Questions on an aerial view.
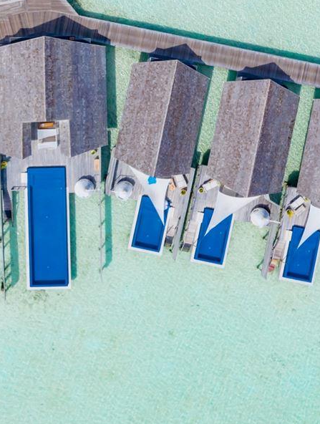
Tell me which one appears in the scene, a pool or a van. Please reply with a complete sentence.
Looking from above, you can make out a pool.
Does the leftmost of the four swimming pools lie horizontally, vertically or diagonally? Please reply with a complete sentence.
What the image shows is the leftmost of the four swimming pools lying vertically.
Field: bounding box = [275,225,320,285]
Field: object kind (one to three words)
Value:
swimming pool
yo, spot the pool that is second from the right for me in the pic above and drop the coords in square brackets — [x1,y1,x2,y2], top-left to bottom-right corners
[189,208,234,268]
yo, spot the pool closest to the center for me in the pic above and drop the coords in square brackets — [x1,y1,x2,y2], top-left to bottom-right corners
[130,195,178,255]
